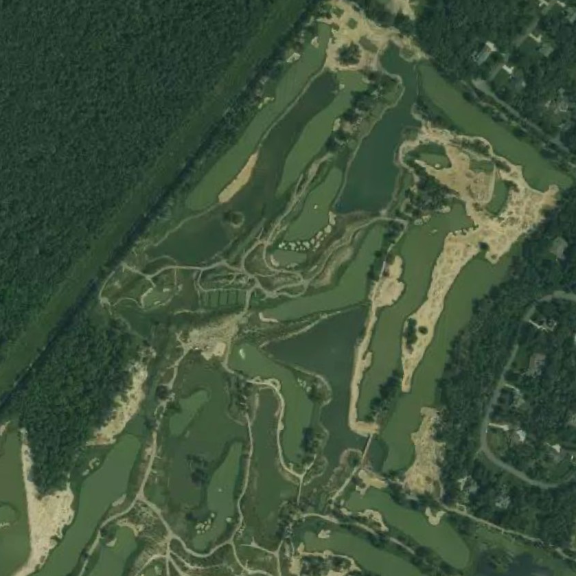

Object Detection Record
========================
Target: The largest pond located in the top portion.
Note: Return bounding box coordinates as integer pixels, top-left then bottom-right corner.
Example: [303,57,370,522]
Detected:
[336,44,422,212]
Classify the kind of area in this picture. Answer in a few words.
golf course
